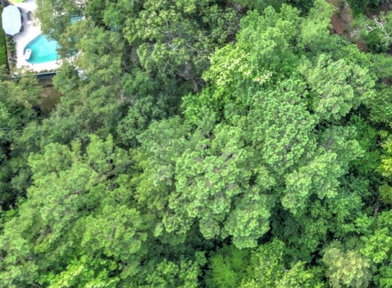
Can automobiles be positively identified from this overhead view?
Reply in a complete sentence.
No, the frame has no automobile in it.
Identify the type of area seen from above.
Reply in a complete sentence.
It's a forest.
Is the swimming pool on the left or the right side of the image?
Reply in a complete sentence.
It is on the left.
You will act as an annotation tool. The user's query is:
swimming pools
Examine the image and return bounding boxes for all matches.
[21,24,85,65]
